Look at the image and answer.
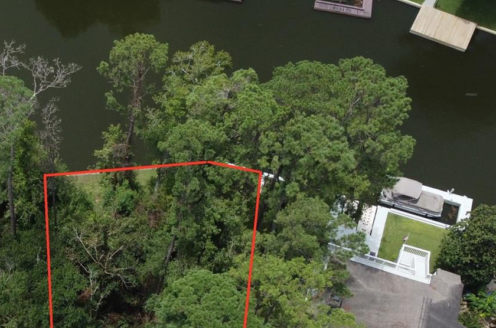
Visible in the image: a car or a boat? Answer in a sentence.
There is a boat in the scene.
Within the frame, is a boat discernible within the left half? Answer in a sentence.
No, no boat appears within the left half.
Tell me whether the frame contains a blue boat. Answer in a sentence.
No, there is no blue boat in the image.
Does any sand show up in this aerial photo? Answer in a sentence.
No, sand can't be seen anywhere here.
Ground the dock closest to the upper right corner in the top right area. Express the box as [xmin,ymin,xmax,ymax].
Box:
[409,4,477,57]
